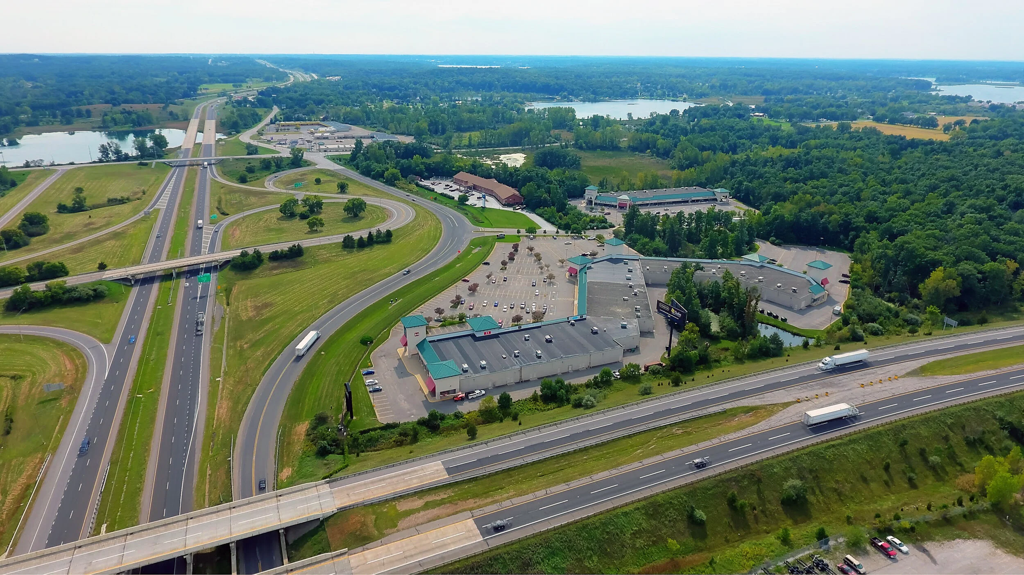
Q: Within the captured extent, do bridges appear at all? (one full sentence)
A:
Yes, looking at the shot, I can spot a bridge.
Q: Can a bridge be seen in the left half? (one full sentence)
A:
Yes, the scene does show a bridge in the left half.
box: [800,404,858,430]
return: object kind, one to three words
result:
truck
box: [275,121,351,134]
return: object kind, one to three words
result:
building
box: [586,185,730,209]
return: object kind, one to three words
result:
building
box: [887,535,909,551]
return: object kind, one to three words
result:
car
